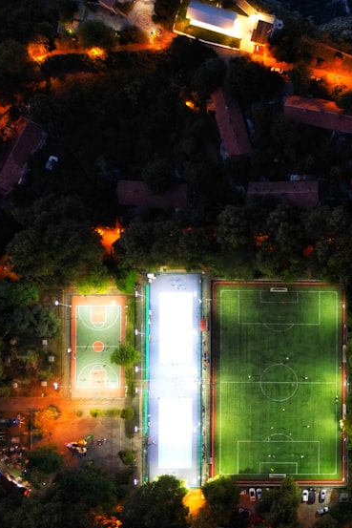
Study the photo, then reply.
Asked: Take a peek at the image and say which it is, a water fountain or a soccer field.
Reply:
soccer field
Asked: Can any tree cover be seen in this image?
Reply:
Yes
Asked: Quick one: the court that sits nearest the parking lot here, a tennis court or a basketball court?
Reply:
tennis court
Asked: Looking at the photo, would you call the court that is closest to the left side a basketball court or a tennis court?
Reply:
basketball court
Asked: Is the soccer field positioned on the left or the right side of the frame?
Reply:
right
